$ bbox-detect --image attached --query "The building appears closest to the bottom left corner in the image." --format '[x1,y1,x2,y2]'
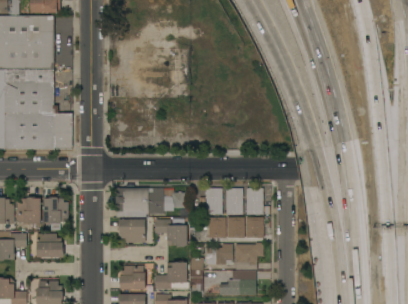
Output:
[0,278,28,304]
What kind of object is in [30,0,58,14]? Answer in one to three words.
house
